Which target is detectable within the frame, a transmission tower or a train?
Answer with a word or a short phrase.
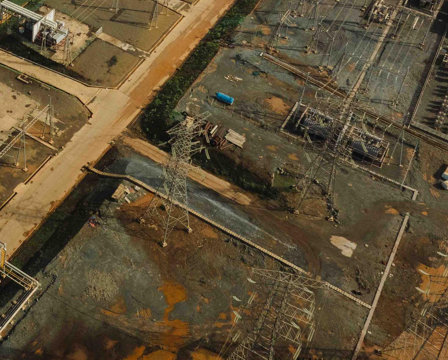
transmission tower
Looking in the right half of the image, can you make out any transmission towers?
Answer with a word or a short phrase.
Yes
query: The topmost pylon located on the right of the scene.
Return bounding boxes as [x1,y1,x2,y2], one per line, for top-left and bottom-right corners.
[290,95,380,218]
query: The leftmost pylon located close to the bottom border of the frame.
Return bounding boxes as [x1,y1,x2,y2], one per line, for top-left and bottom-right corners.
[220,260,336,360]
